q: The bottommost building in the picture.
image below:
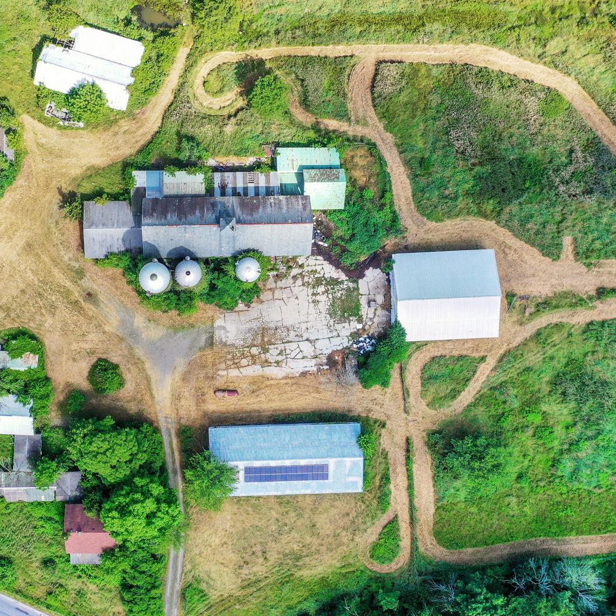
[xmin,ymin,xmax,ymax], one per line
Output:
[64,501,116,570]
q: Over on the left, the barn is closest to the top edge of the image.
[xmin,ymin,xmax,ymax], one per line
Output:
[74,25,145,71]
